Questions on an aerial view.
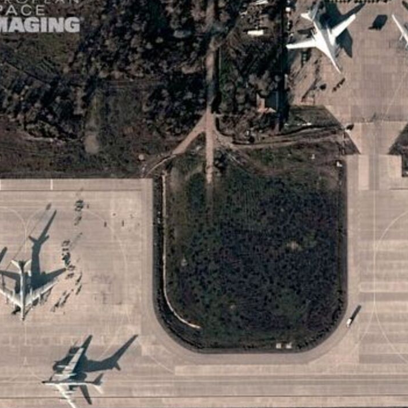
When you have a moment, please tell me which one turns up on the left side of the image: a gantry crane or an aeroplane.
aeroplane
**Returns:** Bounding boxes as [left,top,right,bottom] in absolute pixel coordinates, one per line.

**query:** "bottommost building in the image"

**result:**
[258,93,276,111]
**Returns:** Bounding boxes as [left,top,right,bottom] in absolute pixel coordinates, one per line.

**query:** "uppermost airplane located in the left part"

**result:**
[0,259,55,320]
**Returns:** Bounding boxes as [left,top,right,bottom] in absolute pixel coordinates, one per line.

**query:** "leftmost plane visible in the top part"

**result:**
[287,8,356,73]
